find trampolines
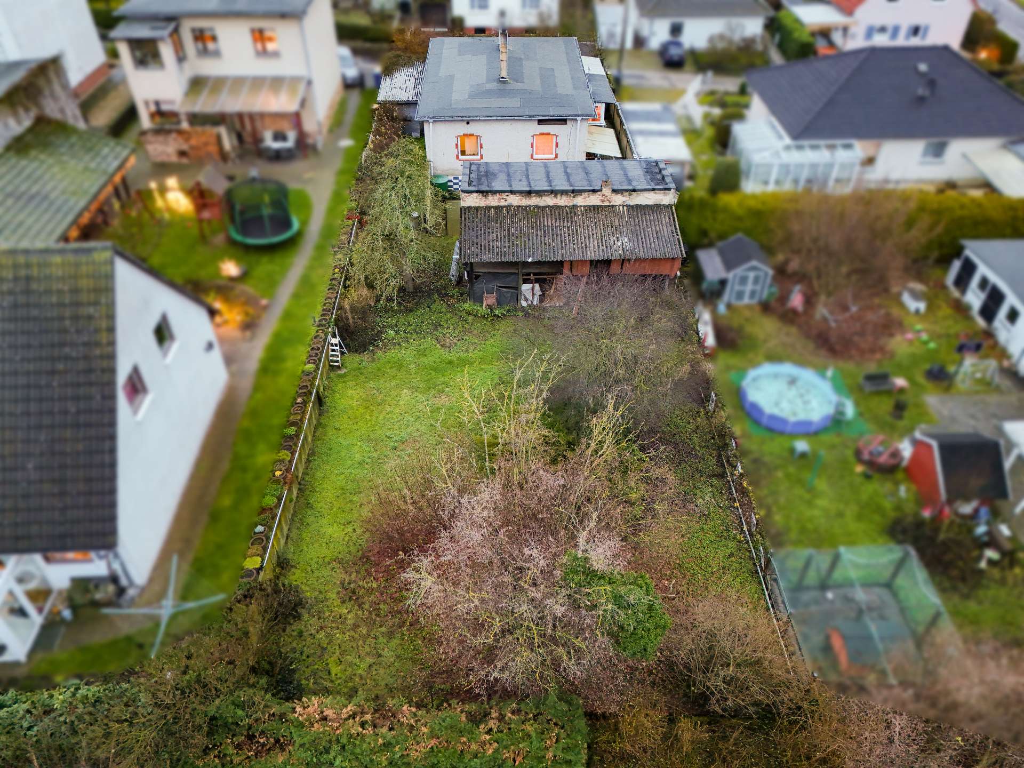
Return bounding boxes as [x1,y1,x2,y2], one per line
[218,172,305,253]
